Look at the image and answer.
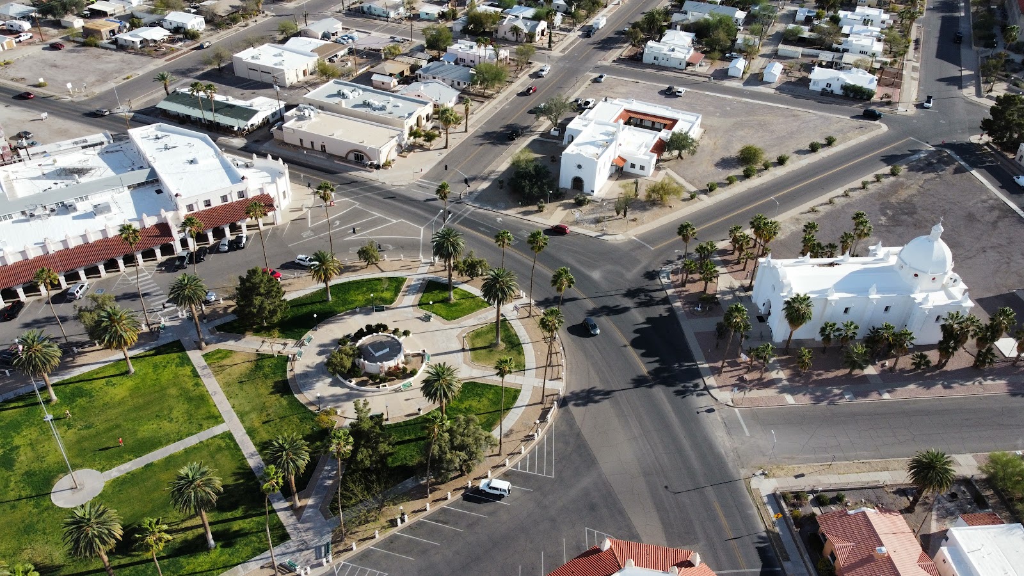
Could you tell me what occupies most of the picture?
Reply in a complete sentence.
Most of the picture is covered by paved ground.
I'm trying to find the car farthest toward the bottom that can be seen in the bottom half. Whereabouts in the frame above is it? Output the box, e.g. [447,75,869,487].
[480,479,512,498]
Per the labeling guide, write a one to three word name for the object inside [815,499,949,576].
house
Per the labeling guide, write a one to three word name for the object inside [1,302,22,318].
car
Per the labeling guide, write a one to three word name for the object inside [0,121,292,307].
building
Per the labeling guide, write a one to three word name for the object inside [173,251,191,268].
vehicle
